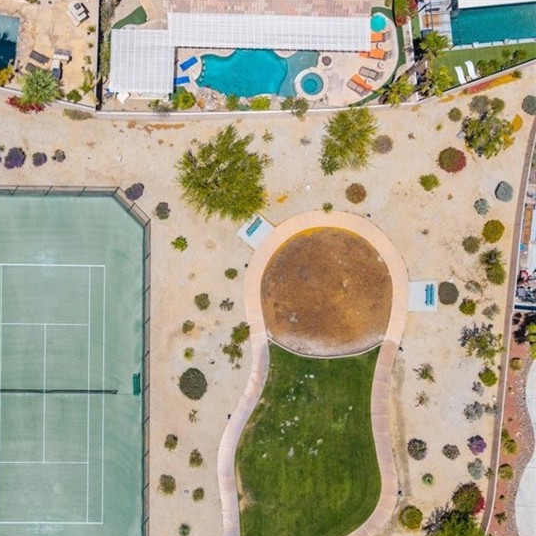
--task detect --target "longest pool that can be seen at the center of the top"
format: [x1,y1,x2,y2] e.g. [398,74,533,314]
[194,48,323,100]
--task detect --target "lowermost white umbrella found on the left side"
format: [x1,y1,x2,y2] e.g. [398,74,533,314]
[115,92,131,108]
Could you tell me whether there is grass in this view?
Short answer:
Yes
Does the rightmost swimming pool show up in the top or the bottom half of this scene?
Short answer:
top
